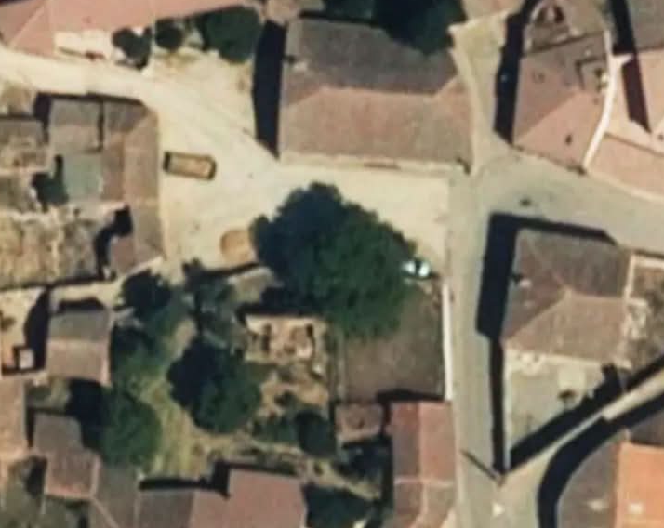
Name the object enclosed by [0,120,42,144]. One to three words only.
shed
